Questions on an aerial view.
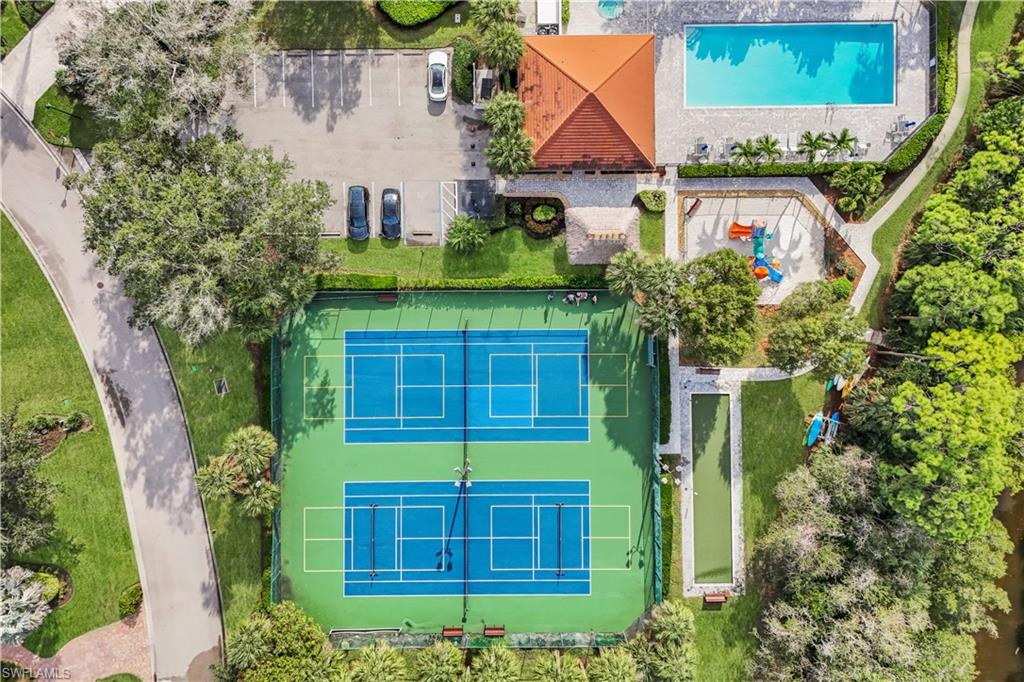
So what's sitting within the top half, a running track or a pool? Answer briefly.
pool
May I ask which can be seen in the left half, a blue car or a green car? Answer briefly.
blue car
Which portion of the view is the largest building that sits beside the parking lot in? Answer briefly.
top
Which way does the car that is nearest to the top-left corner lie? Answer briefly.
vertically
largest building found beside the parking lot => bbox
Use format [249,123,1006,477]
[519,33,660,175]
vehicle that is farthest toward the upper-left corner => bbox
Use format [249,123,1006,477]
[346,187,370,241]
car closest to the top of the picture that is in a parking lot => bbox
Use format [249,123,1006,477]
[426,52,450,103]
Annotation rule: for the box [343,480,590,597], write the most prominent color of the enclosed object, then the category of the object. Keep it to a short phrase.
blue tennis court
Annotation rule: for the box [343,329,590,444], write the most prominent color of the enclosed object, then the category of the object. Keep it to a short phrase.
blue tennis court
